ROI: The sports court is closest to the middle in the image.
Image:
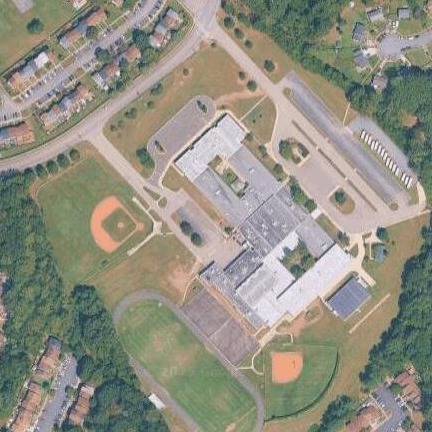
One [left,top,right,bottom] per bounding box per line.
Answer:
[183,288,232,337]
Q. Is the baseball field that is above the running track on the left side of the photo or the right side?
left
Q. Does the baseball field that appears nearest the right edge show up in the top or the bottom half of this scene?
bottom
